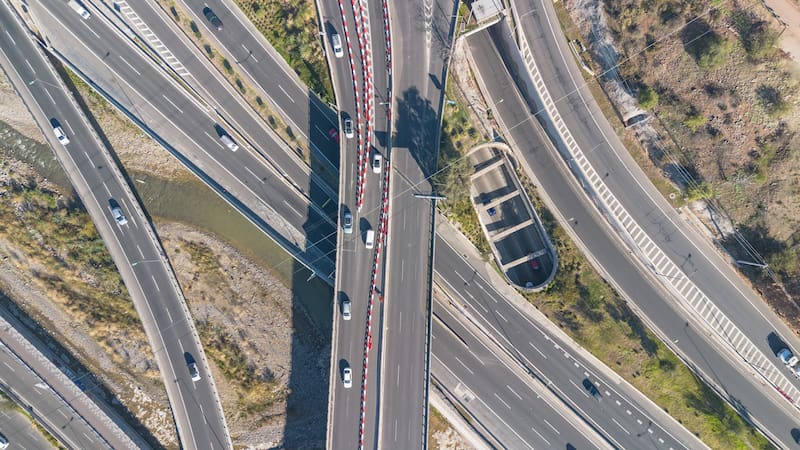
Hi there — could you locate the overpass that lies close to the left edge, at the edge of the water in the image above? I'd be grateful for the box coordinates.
[0,0,236,450]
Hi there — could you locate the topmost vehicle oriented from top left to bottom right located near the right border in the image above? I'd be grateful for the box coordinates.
[777,347,798,368]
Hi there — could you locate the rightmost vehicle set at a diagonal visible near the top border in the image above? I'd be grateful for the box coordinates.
[204,8,222,29]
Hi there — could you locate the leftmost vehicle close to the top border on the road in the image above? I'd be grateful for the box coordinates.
[63,0,95,23]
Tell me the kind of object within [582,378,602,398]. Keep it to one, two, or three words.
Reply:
car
